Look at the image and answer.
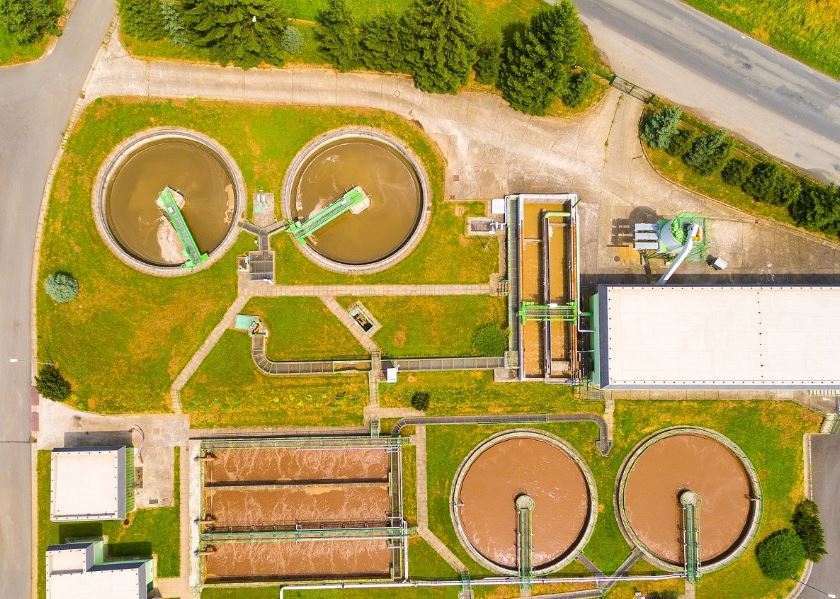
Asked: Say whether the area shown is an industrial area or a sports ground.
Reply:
industrial area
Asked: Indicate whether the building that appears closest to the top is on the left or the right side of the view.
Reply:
right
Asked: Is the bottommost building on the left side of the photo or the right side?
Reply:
left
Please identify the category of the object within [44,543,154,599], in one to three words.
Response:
building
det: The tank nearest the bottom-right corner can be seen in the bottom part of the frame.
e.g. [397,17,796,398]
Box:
[611,424,760,574]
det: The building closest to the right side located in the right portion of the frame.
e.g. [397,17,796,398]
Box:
[590,286,840,389]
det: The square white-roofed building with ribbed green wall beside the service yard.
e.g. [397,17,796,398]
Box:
[50,446,135,521]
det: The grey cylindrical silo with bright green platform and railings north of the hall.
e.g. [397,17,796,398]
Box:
[645,208,715,267]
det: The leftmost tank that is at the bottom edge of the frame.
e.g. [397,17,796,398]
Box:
[450,427,598,576]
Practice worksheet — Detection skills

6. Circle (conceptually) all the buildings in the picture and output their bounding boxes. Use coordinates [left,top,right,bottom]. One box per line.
[590,286,840,389]
[44,543,154,599]
[50,446,135,521]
